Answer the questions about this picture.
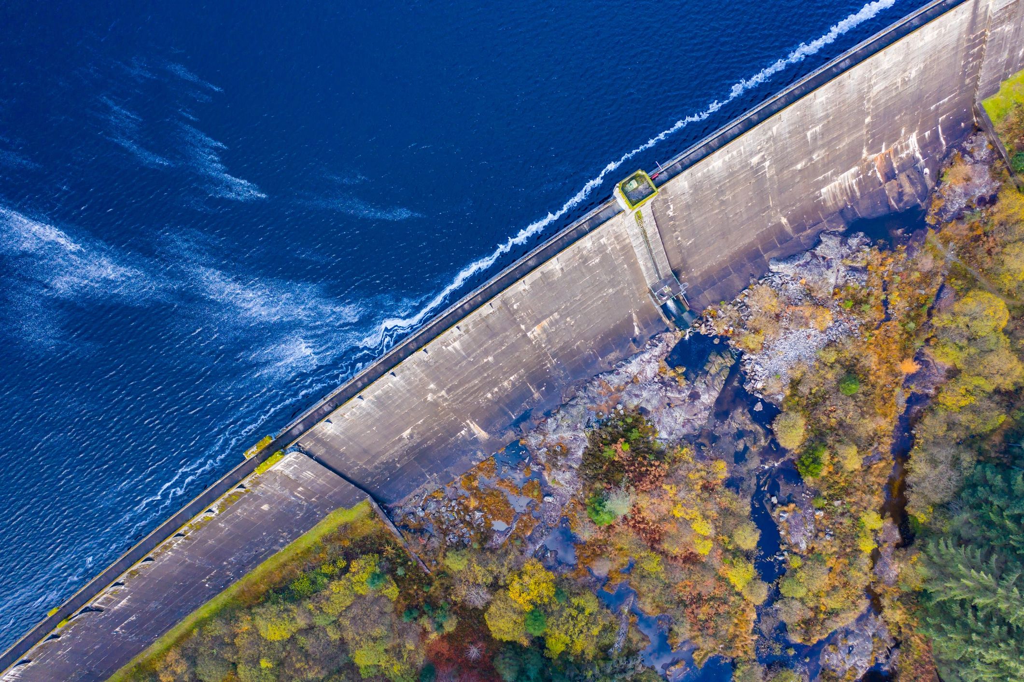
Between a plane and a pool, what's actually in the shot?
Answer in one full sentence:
I can see a pool in this picture.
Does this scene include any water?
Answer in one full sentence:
Yes, the picture does contain water.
